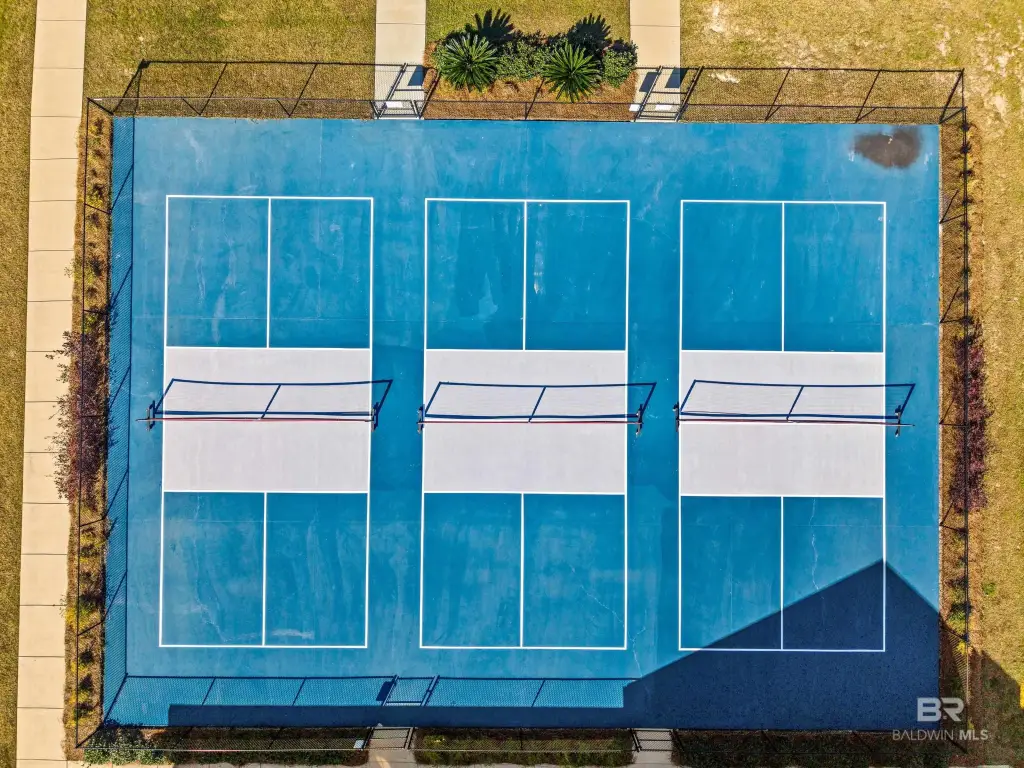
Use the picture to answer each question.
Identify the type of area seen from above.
sports ground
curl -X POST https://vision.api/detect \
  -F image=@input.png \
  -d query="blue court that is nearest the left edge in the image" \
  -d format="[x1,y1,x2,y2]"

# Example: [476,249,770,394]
[160,196,373,648]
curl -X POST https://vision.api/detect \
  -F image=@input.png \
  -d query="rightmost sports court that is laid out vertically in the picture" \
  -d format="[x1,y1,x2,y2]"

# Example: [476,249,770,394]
[679,200,886,652]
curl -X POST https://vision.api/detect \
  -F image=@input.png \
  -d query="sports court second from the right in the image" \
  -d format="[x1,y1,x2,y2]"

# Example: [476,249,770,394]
[420,198,629,650]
